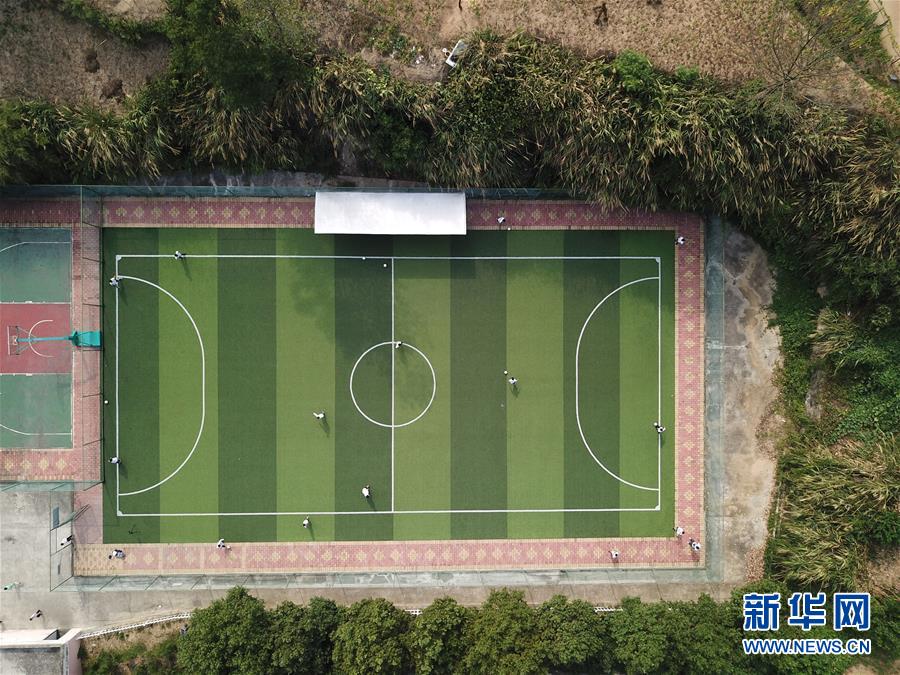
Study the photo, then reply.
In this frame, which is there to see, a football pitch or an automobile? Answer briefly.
football pitch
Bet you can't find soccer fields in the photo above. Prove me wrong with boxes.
[102,227,676,545]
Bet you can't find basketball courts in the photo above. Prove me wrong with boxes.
[0,227,72,450]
